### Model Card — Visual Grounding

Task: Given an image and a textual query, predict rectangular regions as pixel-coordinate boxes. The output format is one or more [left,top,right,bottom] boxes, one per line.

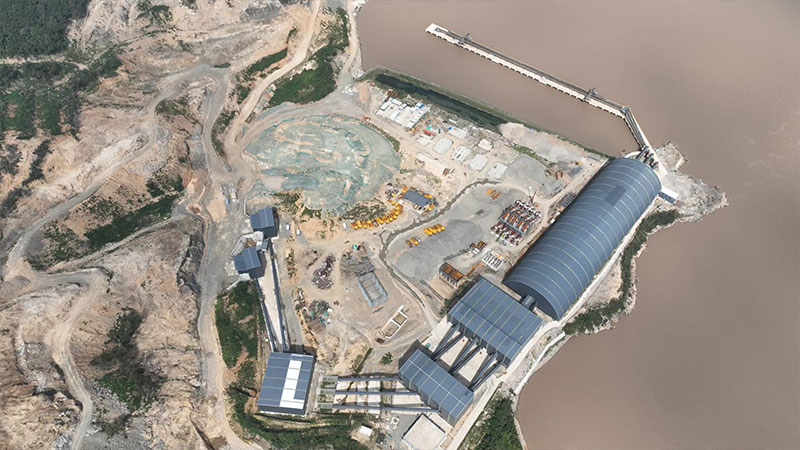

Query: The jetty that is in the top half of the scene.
[426,23,667,174]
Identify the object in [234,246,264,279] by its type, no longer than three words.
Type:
house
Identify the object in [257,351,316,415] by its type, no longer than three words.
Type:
building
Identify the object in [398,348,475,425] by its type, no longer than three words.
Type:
building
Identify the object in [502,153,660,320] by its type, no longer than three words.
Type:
shed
